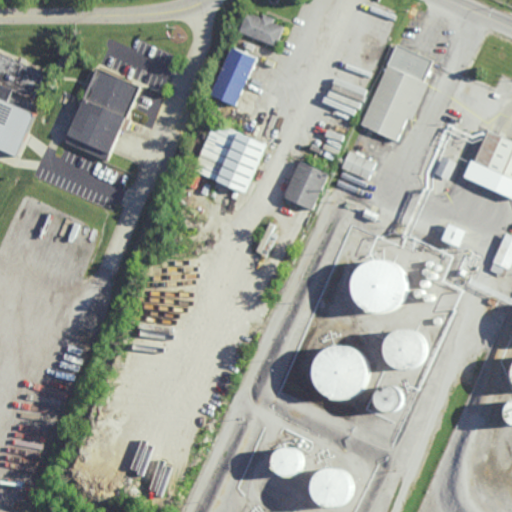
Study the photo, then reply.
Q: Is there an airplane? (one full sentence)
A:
No, no airplane is visible in the view.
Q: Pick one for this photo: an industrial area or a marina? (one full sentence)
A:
This image shows an industrial area.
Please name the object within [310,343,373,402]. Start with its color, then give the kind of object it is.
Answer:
white storage tank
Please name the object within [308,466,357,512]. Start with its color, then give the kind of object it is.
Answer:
white storage tank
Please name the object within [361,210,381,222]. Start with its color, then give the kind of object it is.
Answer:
white vehicle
